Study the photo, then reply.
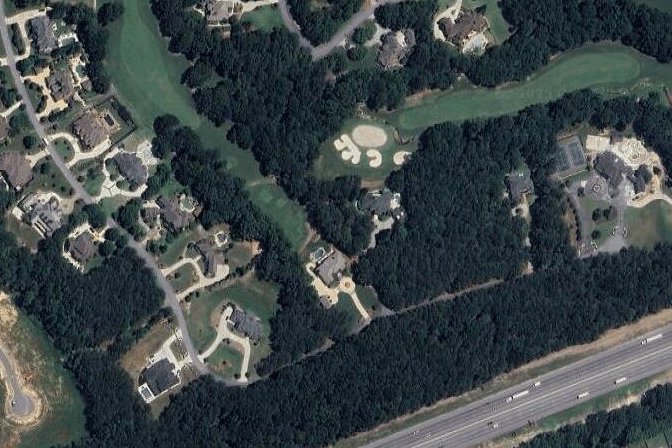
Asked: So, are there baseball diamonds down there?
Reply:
No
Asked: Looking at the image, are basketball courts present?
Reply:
No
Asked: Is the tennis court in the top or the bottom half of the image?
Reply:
top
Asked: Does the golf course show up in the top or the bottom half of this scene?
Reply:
top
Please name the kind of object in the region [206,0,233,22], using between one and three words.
house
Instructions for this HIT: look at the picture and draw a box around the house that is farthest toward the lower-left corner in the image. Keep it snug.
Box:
[143,358,178,393]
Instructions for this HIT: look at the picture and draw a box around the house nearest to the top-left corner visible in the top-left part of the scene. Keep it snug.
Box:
[31,15,58,52]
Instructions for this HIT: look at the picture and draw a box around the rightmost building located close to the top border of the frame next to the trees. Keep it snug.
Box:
[441,11,486,39]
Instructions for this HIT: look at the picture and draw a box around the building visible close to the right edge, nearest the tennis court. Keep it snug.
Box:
[590,149,639,190]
